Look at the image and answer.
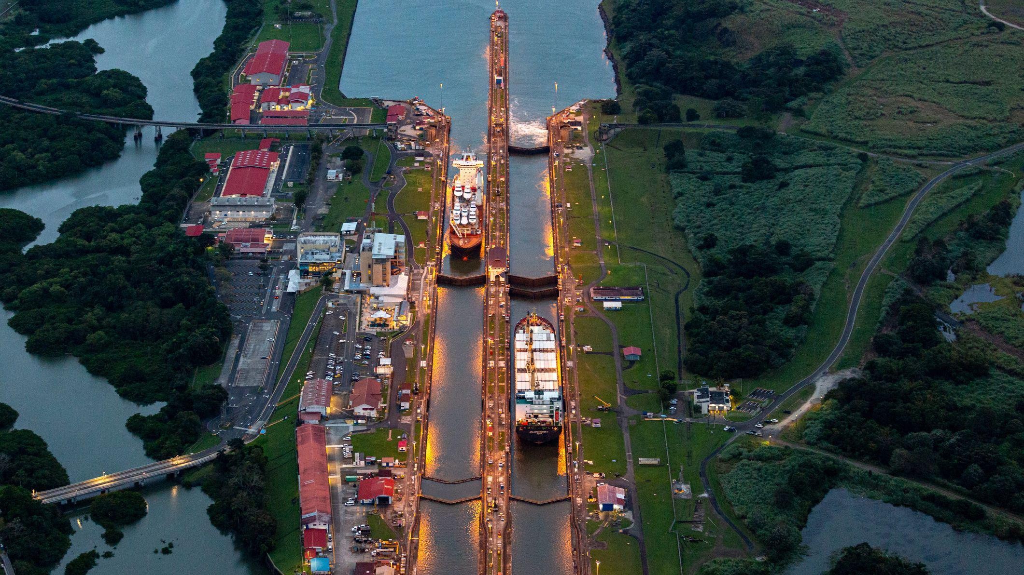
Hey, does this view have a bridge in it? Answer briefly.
Yes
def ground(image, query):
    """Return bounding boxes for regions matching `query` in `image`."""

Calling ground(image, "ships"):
[514,306,562,440]
[450,150,485,255]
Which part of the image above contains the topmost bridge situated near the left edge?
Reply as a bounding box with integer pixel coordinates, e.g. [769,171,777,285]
[0,95,387,139]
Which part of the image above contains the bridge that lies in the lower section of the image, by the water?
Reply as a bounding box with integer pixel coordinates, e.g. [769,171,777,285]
[0,444,227,519]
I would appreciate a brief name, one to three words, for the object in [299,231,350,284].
building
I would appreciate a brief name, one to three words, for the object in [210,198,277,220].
building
